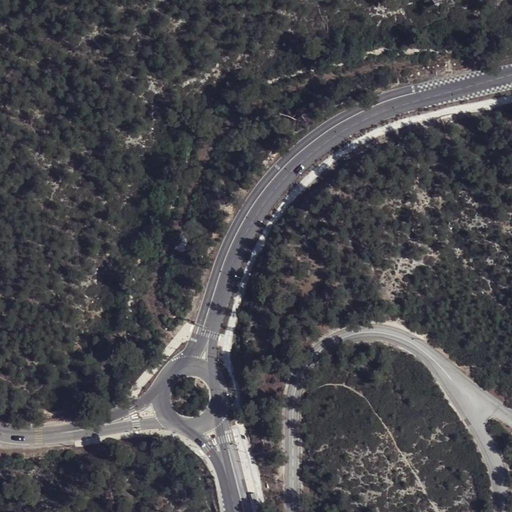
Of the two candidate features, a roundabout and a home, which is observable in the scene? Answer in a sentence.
This aerial view contains a roundabout.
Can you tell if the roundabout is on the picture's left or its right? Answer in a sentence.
The roundabout sits on the left side.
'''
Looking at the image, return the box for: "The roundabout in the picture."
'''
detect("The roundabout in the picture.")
[104,340,238,474]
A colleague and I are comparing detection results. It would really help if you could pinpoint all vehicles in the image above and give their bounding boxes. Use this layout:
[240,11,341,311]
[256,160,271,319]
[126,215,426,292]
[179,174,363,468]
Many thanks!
[194,437,206,448]
[11,435,24,442]
[294,164,305,174]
